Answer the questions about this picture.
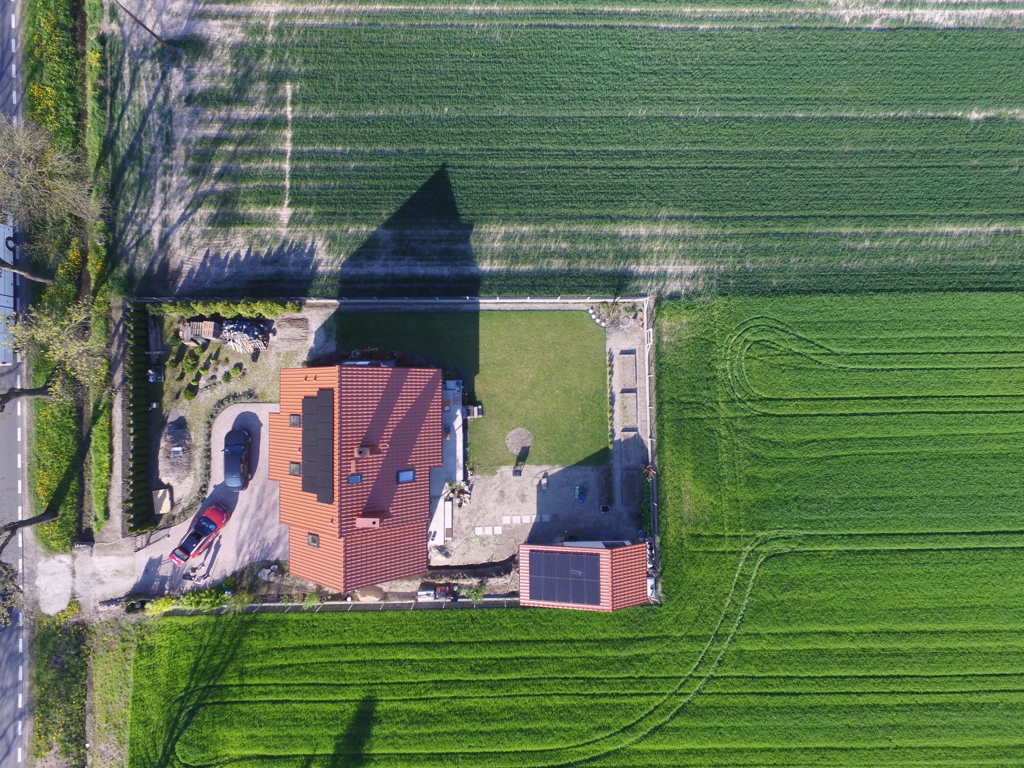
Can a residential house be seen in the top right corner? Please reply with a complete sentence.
No, no residential house is visible in the top right corner.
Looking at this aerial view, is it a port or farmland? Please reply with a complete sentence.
The picture captures farmland.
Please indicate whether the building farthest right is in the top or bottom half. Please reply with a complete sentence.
Seen from above, the building farthest right lies in the bottom half of the view.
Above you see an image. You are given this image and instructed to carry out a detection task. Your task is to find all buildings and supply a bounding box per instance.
[267,365,445,595]
[518,538,649,613]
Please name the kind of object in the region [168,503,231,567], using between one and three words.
car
